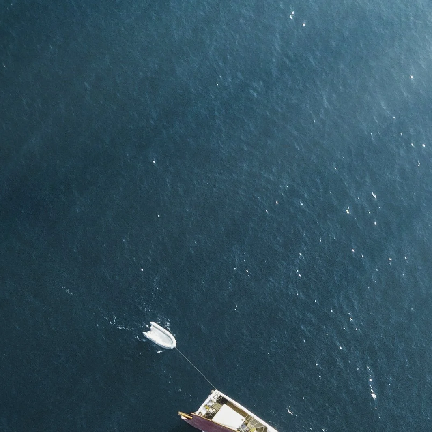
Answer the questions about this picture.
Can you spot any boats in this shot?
Yes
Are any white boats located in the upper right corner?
No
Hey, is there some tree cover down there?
No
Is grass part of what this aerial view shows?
No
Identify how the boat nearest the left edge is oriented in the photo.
at an angle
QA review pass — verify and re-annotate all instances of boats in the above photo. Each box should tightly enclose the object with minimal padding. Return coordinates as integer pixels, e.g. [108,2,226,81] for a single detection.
[175,388,281,432]
[144,322,176,349]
